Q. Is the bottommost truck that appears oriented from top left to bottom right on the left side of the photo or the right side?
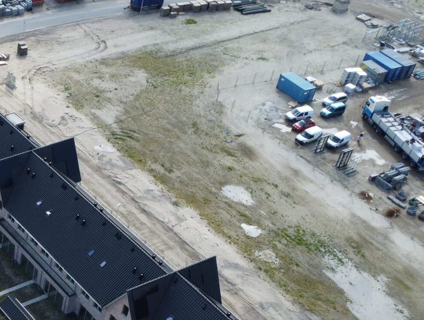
right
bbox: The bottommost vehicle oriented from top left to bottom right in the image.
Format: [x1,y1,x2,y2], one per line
[364,97,424,168]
